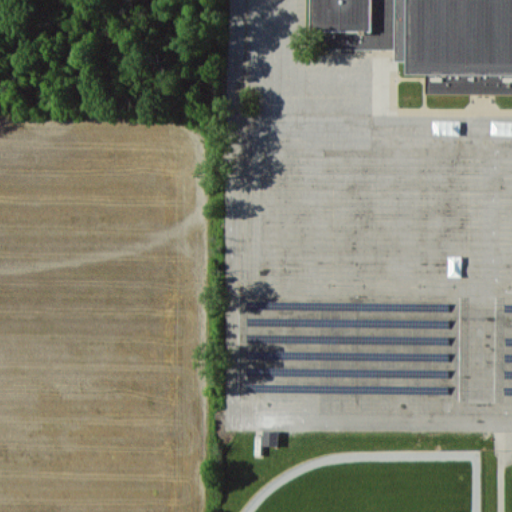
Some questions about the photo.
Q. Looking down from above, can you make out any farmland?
Yes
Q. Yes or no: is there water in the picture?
No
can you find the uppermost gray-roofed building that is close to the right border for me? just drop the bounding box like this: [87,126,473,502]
[394,0,512,96]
